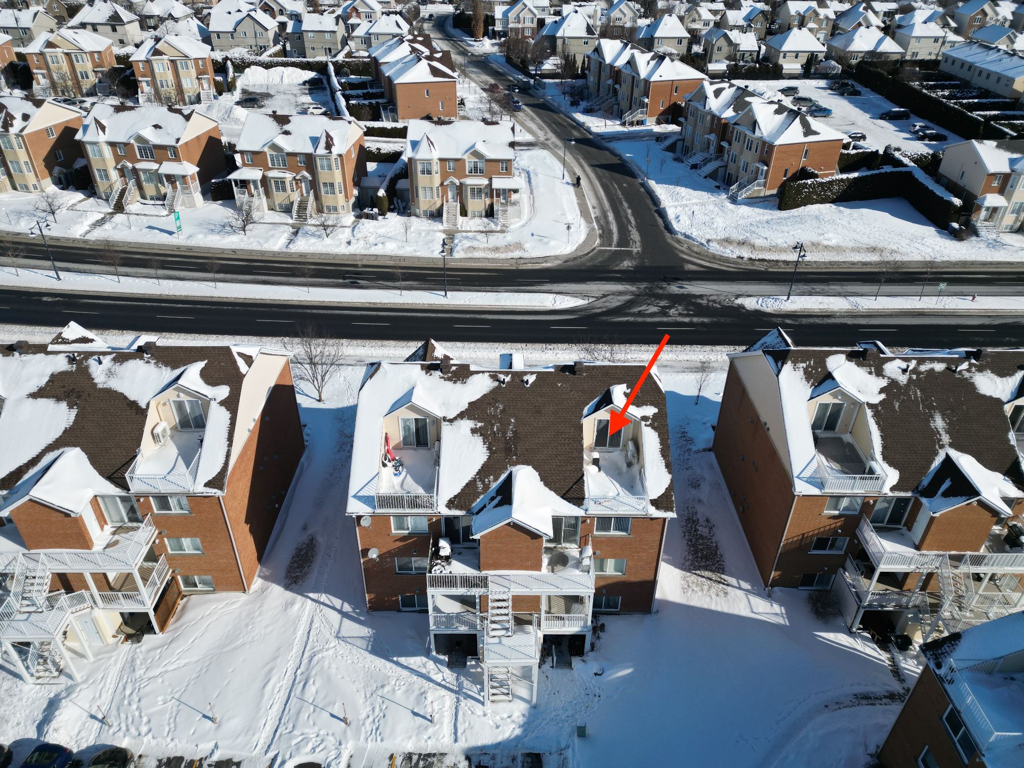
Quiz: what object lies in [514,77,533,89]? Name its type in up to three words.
vehicle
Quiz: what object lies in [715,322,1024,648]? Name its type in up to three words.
building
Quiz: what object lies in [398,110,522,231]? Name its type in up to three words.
house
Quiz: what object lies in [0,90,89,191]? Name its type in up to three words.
house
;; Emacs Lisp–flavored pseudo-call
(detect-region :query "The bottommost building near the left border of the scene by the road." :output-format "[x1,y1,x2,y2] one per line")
[0,324,303,679]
